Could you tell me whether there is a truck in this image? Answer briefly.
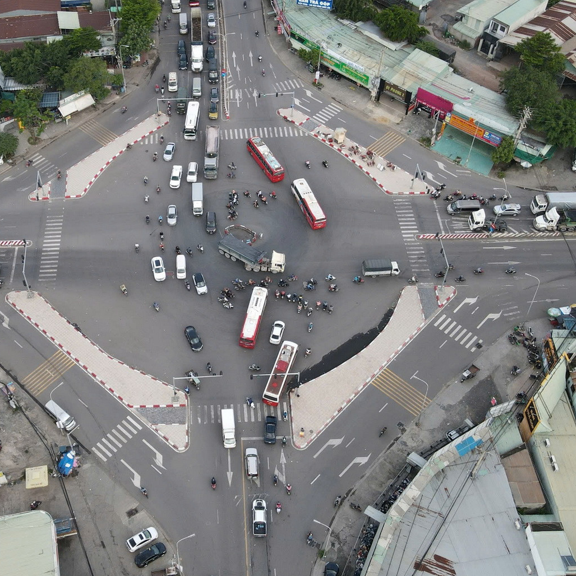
Yes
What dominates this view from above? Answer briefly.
paved ground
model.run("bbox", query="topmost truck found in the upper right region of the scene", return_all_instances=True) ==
[429,33,470,59]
